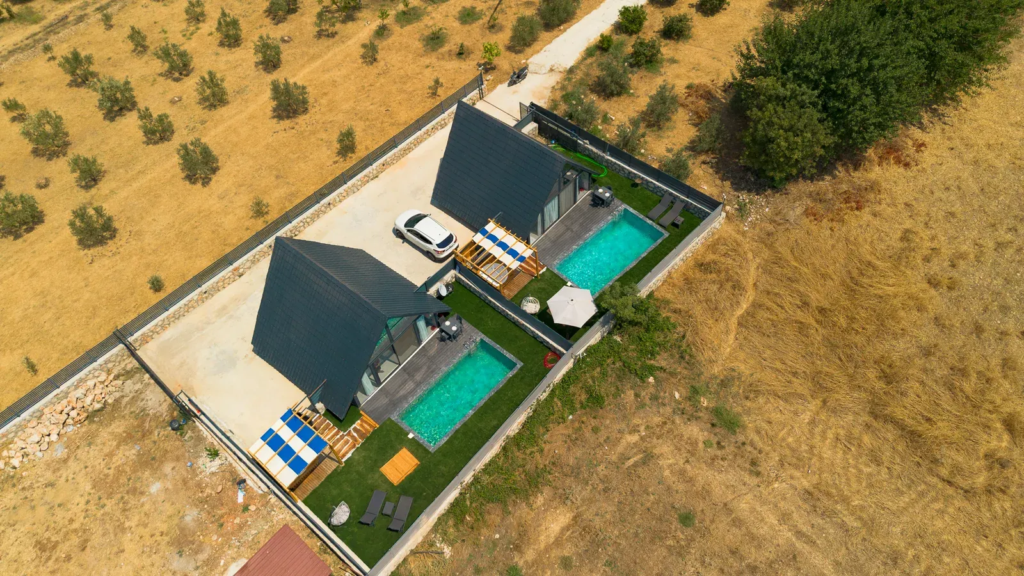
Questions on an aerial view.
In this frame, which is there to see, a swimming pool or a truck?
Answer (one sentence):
The image shows a swimming pool.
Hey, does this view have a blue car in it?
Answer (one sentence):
No, there is no blue car in the image.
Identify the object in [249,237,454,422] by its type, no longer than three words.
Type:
building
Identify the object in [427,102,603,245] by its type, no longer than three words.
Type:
building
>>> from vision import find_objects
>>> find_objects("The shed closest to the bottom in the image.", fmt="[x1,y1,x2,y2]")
[231,524,333,576]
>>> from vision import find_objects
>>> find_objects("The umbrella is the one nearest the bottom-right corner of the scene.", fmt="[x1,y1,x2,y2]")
[546,284,601,336]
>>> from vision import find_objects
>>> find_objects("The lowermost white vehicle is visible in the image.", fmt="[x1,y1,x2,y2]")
[392,209,460,261]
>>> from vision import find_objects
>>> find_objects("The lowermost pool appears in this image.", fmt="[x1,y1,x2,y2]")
[388,332,525,455]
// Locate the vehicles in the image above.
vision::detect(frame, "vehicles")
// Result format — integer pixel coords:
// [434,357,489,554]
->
[392,209,460,261]
[508,63,527,84]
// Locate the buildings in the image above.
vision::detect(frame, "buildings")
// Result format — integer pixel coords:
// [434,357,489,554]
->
[427,102,603,245]
[231,524,333,576]
[249,237,454,422]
